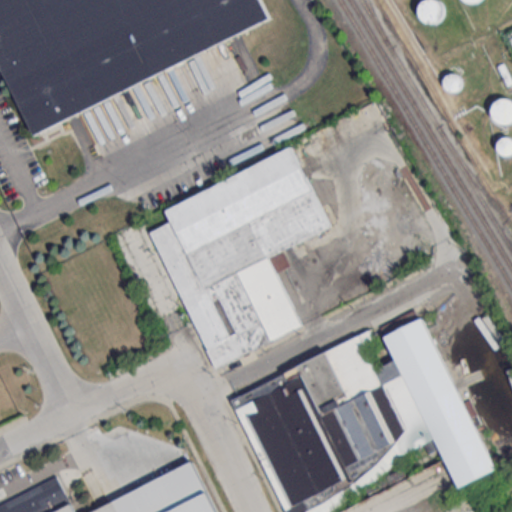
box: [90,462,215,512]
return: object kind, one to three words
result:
building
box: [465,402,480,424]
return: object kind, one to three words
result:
vehicle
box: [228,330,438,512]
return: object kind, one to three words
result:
building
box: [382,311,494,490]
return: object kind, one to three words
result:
shed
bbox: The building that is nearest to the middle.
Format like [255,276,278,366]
[149,148,331,368]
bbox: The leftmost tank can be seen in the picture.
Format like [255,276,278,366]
[416,0,448,30]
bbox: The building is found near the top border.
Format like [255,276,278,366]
[0,0,266,134]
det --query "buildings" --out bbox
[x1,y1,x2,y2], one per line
[0,0,266,134]
[149,148,331,368]
[382,311,494,490]
[228,330,438,512]
[90,462,215,512]
[0,476,74,512]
